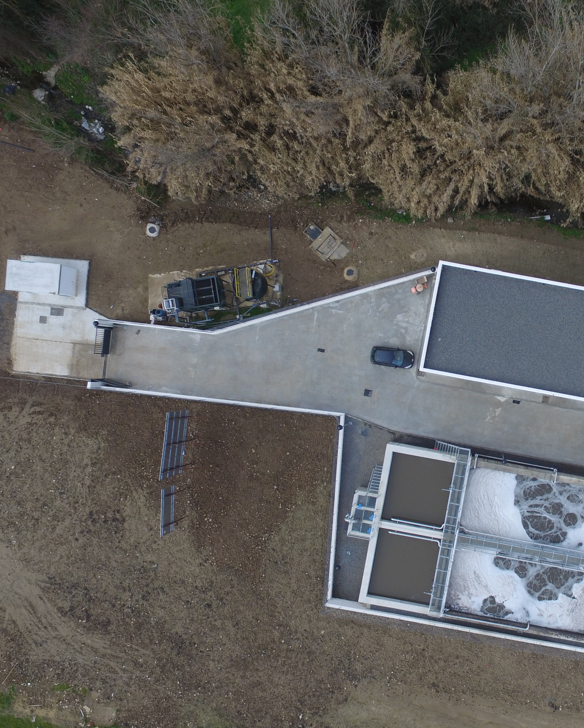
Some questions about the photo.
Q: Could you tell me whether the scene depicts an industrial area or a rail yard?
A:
industrial area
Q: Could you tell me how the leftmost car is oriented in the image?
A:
from side to side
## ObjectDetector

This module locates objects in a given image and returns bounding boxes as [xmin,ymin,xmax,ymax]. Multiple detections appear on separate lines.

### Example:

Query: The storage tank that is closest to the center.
[225,266,274,307]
